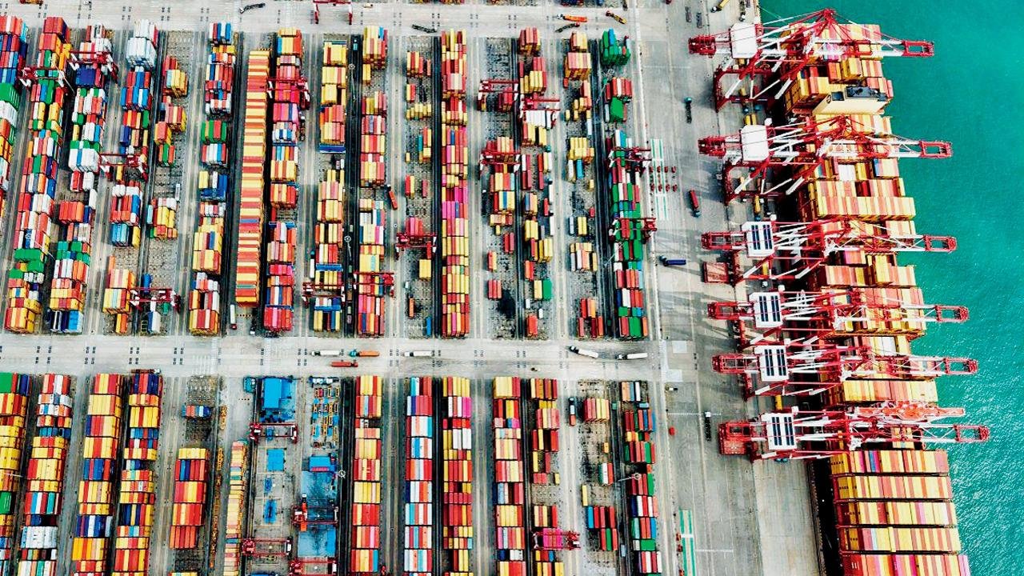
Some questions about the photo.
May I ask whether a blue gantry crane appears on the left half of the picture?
No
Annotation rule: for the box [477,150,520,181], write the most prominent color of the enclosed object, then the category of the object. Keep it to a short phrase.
red container crane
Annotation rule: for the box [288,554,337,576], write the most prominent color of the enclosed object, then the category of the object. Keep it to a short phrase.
red container crane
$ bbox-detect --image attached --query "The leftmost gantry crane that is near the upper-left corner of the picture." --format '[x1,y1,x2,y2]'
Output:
[26,66,78,99]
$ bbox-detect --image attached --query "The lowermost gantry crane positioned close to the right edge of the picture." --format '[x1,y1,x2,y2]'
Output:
[717,408,992,465]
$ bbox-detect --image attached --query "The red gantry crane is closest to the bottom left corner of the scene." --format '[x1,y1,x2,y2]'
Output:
[242,531,293,562]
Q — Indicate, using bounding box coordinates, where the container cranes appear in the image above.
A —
[290,501,338,531]
[269,75,312,108]
[698,115,955,198]
[712,340,981,402]
[70,49,120,83]
[395,232,438,262]
[313,0,353,24]
[26,66,78,99]
[288,554,337,576]
[130,286,181,315]
[688,7,936,101]
[528,525,578,556]
[517,98,560,130]
[300,281,345,311]
[100,152,150,184]
[350,271,393,300]
[249,421,297,448]
[701,214,960,288]
[242,531,293,562]
[707,287,972,352]
[477,150,520,181]
[607,216,655,246]
[717,408,992,465]
[603,147,650,178]
[476,79,518,111]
